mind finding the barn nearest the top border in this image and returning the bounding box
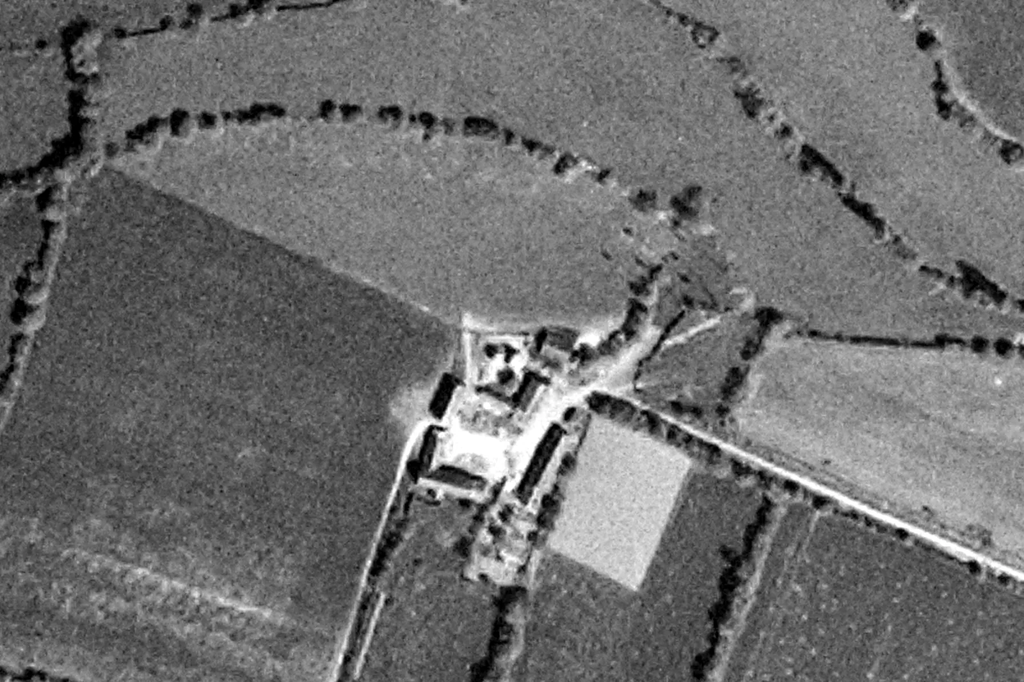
[540,341,571,363]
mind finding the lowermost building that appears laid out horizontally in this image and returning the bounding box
[428,469,486,501]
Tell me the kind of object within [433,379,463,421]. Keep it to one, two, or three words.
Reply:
barn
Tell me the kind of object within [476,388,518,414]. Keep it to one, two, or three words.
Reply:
shed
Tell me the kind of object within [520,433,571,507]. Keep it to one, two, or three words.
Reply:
shed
